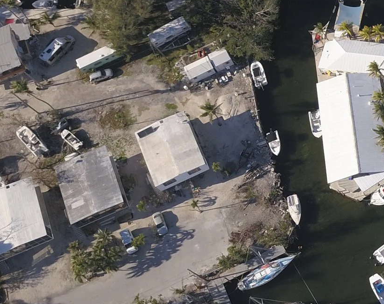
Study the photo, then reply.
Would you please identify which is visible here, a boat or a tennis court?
boat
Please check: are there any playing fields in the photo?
No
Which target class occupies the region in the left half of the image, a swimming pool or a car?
car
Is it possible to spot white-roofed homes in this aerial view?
Yes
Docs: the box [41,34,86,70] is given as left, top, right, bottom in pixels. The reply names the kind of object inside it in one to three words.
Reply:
camper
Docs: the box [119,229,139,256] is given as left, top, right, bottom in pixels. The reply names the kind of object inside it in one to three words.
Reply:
car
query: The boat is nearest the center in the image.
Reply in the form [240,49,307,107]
[265,129,281,155]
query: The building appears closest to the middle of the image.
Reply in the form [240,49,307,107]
[136,112,213,195]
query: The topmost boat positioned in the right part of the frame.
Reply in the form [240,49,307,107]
[251,62,269,89]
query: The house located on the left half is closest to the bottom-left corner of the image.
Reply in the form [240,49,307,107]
[0,178,61,273]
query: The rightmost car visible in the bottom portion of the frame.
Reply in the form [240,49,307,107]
[153,211,170,237]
